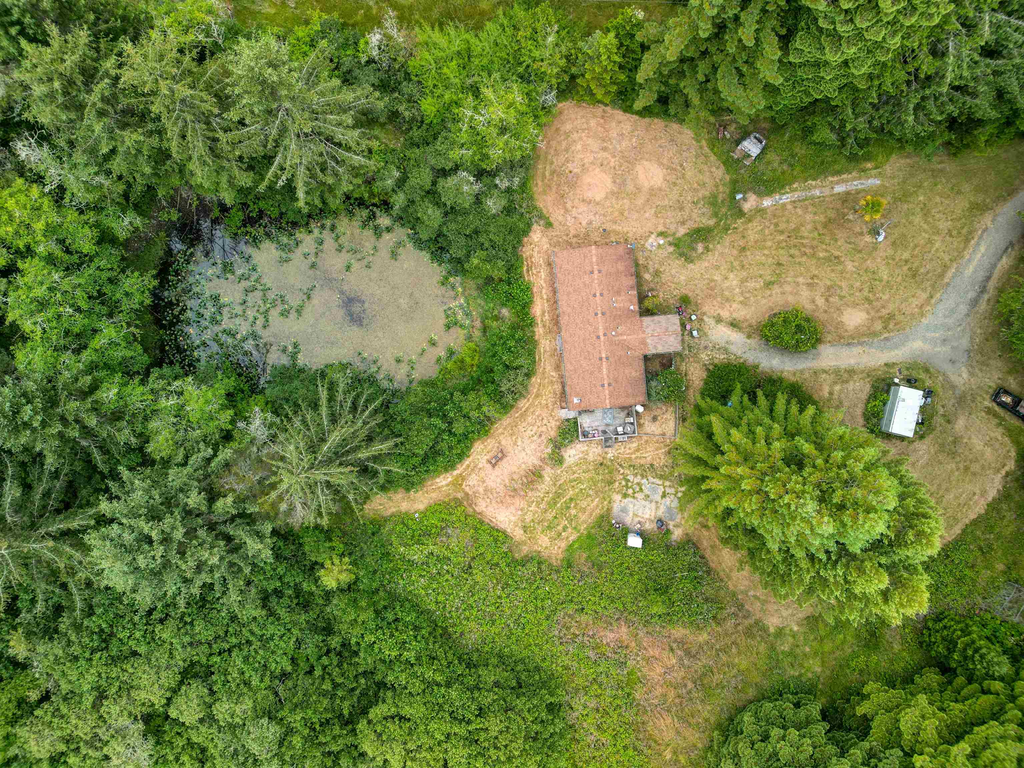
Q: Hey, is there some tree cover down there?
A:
Yes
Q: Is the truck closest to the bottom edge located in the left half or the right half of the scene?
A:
right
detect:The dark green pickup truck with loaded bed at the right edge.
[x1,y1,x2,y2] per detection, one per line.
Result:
[990,387,1024,419]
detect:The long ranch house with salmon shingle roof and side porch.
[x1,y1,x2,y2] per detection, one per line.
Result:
[552,243,681,413]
